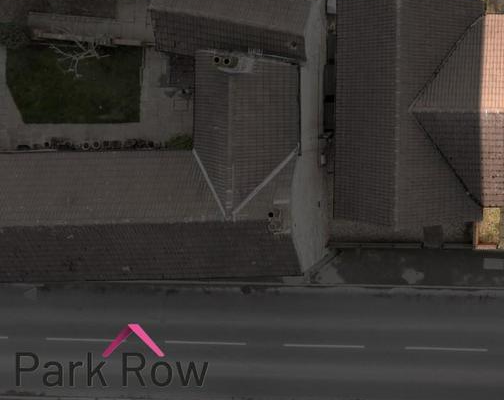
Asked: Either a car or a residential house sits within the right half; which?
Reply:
residential house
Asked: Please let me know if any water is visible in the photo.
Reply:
No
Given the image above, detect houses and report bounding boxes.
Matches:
[0,52,331,288]
[333,0,486,232]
